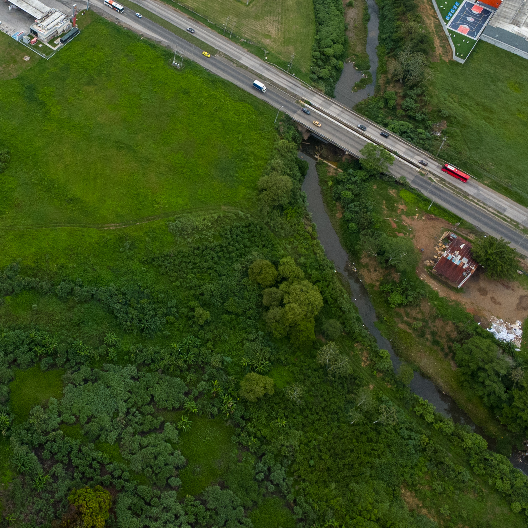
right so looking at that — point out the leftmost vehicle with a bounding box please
[105,0,123,12]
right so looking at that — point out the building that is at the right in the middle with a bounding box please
[431,233,477,293]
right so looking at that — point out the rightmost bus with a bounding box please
[441,162,471,183]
